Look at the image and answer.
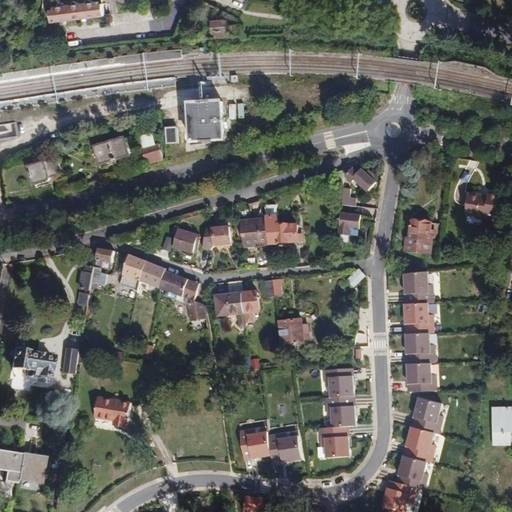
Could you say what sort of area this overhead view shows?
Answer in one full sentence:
What you see here is a residential area.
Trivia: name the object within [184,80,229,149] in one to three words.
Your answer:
building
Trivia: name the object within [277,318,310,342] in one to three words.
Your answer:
house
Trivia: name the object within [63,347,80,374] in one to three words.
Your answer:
barn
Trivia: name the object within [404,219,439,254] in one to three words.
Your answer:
house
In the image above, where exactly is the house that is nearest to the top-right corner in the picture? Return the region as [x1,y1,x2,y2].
[464,191,494,214]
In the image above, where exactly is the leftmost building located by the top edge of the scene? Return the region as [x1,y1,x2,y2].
[48,2,107,25]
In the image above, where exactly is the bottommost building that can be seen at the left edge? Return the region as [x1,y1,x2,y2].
[0,450,50,488]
